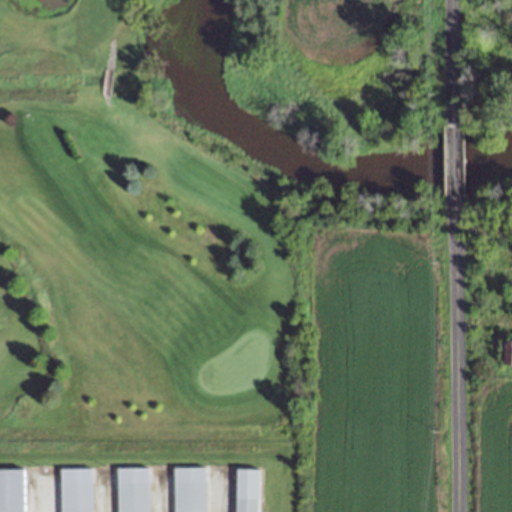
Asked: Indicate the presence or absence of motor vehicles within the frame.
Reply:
No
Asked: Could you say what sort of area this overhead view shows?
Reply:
golf course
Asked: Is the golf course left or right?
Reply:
left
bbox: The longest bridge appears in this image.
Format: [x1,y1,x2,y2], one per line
[444,124,468,196]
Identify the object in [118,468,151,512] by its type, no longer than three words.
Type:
building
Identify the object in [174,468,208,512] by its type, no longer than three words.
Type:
building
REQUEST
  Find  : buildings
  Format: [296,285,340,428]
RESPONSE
[236,468,261,512]
[118,468,151,512]
[504,342,512,364]
[60,468,95,512]
[174,468,208,512]
[0,468,24,512]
